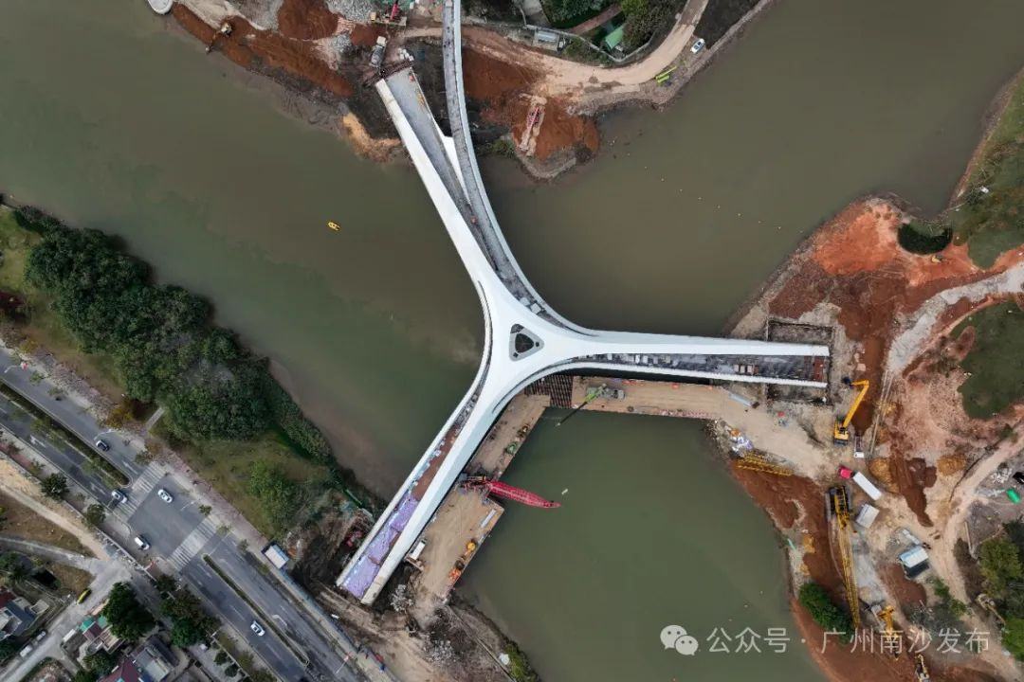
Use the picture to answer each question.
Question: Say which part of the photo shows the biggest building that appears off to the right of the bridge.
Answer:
bottom right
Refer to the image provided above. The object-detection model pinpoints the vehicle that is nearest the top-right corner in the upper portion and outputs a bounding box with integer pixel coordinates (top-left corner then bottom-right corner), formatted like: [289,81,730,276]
[925,251,943,264]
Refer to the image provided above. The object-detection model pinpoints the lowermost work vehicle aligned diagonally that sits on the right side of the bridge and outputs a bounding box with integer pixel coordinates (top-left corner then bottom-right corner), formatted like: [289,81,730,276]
[971,591,1008,627]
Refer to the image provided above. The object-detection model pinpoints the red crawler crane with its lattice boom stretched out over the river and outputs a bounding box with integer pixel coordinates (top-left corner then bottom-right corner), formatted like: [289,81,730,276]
[467,477,563,508]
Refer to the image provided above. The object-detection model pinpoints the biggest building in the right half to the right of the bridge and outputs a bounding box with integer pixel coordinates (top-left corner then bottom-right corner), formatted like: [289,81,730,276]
[895,546,928,569]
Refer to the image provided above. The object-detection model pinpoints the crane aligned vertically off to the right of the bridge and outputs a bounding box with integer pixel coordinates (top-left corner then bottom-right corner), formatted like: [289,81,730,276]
[827,487,860,627]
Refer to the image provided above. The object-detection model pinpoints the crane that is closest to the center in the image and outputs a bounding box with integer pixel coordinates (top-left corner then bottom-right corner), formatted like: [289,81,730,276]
[556,377,625,425]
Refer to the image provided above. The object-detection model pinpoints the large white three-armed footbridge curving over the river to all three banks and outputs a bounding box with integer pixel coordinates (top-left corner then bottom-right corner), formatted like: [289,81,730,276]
[336,0,828,606]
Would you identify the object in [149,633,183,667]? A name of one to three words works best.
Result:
house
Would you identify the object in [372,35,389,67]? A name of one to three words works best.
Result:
vehicle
